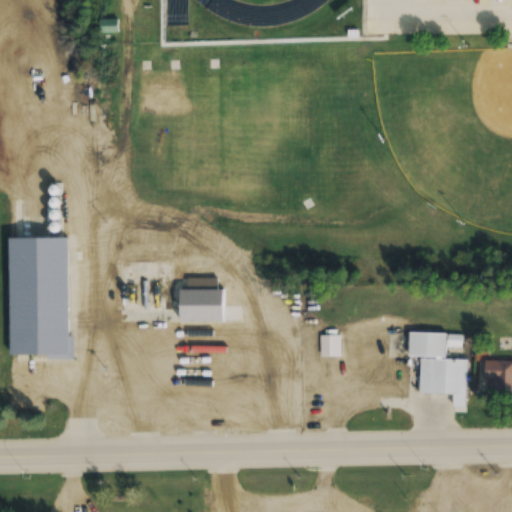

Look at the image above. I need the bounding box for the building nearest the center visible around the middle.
[178,278,225,322]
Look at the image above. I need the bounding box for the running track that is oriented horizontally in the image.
[168,0,331,28]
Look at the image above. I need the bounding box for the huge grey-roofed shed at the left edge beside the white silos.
[9,238,78,358]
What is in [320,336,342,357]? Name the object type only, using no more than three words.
shed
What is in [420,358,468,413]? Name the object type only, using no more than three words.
house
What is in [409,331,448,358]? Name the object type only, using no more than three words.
building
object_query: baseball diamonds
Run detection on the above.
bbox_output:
[375,50,512,234]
